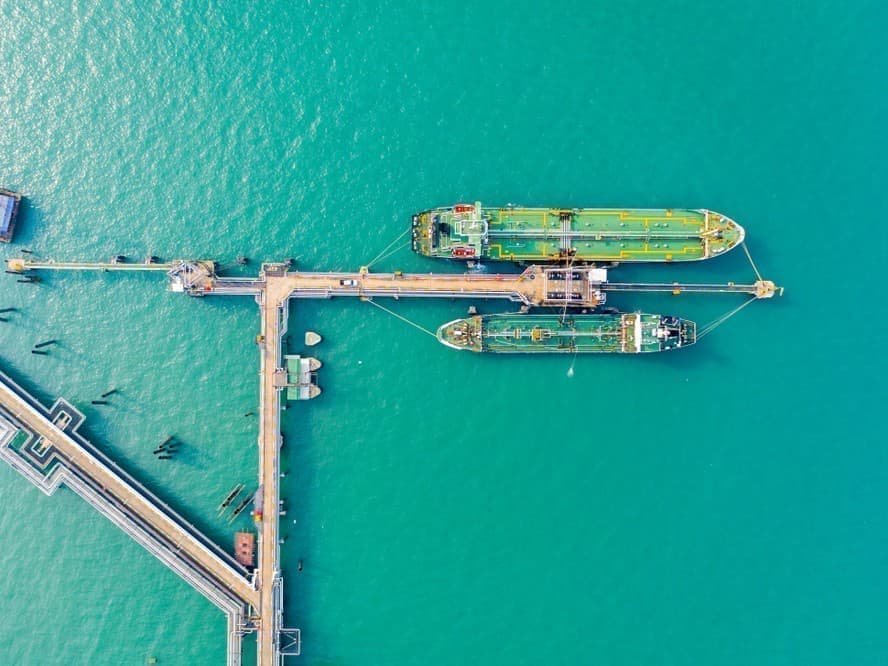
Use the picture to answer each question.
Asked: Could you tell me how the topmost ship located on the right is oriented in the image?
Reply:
from left to right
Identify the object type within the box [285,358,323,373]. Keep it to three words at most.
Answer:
boat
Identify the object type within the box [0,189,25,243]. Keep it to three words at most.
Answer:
vessel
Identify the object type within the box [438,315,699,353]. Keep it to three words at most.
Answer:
ship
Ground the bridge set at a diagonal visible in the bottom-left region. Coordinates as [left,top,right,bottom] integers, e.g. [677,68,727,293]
[0,371,263,666]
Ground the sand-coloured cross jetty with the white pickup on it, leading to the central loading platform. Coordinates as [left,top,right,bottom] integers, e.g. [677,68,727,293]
[259,263,536,310]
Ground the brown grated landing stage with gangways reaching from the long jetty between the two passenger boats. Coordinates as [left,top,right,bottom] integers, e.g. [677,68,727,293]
[273,369,321,389]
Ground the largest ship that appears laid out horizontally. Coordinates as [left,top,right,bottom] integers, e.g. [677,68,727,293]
[413,199,749,264]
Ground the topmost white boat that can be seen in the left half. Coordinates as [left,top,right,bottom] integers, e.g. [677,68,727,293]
[304,331,323,345]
